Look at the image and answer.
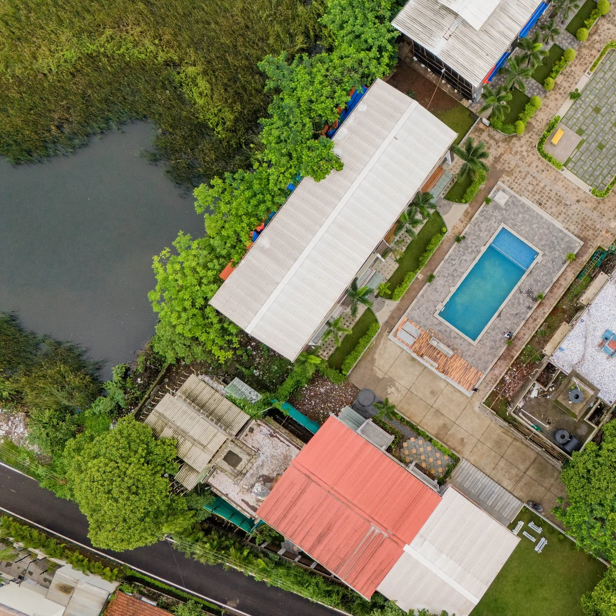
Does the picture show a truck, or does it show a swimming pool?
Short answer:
swimming pool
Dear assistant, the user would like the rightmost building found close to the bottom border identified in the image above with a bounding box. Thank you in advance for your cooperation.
[376,484,522,616]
